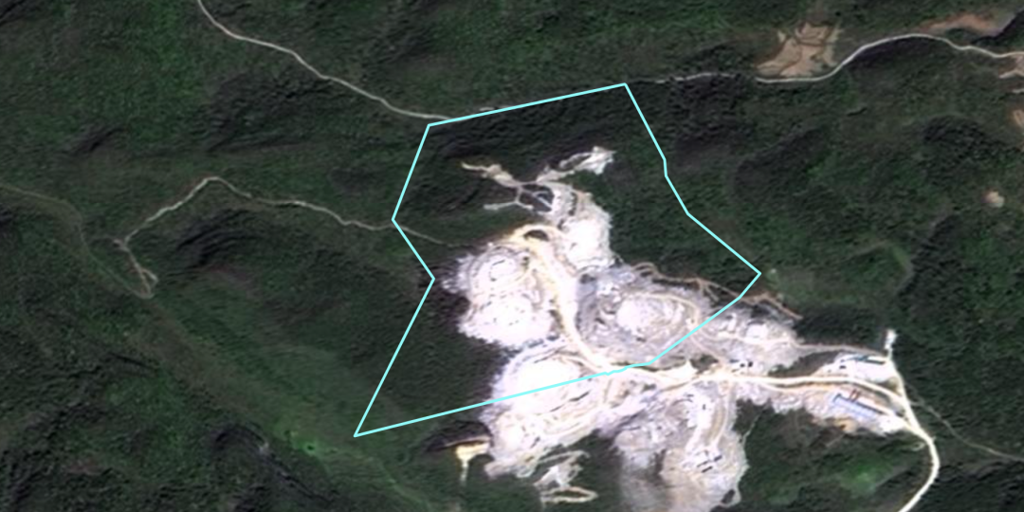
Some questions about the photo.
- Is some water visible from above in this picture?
No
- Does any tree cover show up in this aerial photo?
Yes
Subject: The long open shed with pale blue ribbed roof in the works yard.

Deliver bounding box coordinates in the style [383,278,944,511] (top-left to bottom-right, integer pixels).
[836,395,880,420]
